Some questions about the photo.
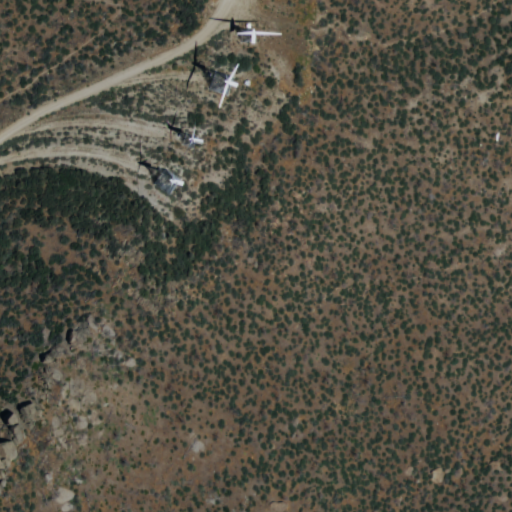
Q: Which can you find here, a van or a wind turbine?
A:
wind turbine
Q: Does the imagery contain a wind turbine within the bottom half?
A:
No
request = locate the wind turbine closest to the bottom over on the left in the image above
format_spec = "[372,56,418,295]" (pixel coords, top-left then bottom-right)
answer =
[152,168,182,206]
